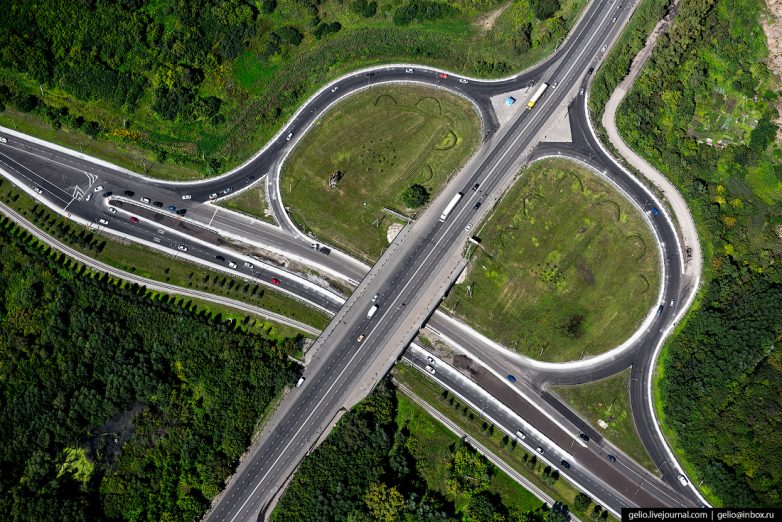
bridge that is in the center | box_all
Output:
[302,214,467,396]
